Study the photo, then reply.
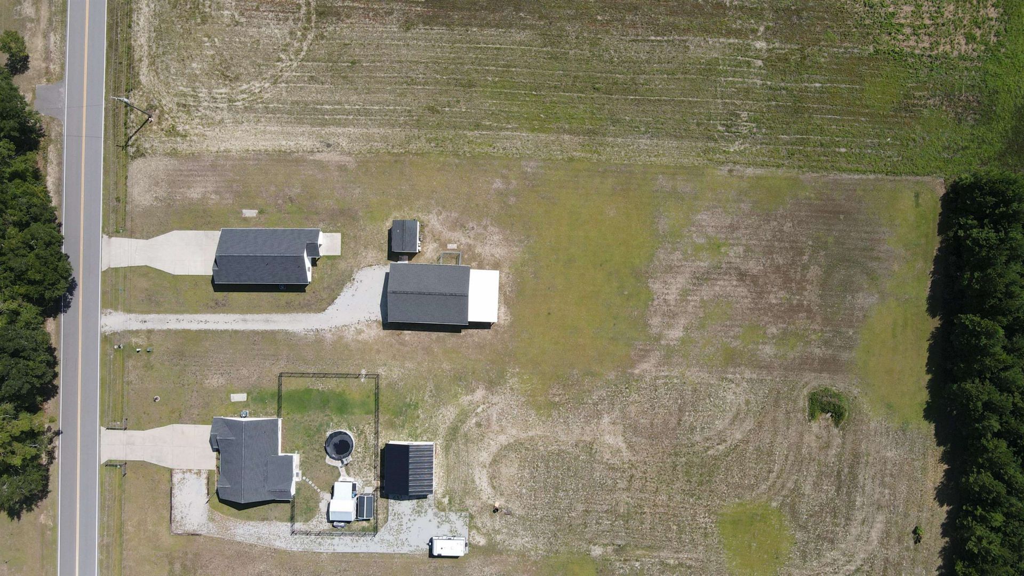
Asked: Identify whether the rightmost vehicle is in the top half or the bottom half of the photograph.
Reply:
bottom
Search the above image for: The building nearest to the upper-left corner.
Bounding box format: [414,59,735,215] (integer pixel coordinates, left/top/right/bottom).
[211,228,323,284]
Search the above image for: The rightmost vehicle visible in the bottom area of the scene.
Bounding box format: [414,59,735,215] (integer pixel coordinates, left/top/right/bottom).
[427,530,467,556]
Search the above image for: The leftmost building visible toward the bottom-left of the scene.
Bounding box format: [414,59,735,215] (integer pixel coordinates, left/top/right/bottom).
[210,416,302,503]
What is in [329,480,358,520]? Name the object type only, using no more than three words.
shed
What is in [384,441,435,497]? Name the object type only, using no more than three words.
shed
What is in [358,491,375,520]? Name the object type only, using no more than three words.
greenhouse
